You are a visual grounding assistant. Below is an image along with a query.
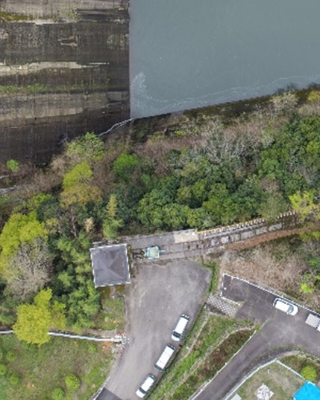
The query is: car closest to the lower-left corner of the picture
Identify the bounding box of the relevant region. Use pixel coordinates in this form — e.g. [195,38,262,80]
[135,375,157,400]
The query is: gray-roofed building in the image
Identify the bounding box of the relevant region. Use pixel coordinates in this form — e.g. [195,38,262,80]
[86,250,126,291]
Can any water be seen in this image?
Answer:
Yes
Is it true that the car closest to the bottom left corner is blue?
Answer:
No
